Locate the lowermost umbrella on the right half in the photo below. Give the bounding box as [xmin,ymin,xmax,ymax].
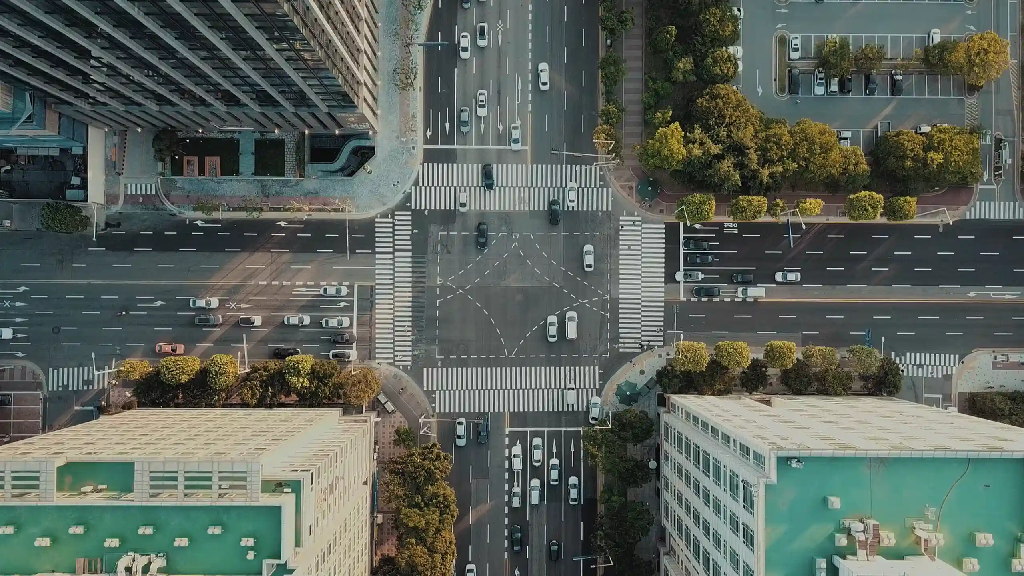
[615,380,639,405]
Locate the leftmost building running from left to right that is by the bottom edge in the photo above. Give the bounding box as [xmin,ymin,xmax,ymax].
[0,408,375,576]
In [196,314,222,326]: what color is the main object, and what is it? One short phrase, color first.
gray vehicle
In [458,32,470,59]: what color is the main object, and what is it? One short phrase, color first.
white vehicle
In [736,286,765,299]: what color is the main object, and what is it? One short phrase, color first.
white vehicle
